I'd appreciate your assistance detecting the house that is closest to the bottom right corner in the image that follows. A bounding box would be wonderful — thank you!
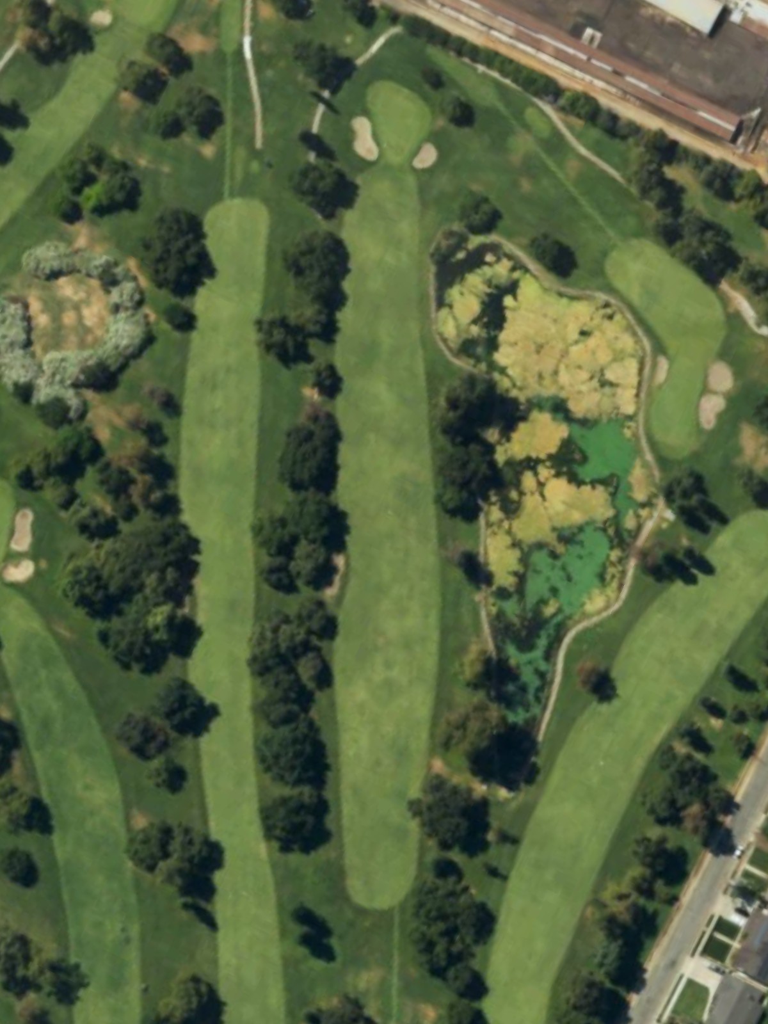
[702,974,765,1024]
